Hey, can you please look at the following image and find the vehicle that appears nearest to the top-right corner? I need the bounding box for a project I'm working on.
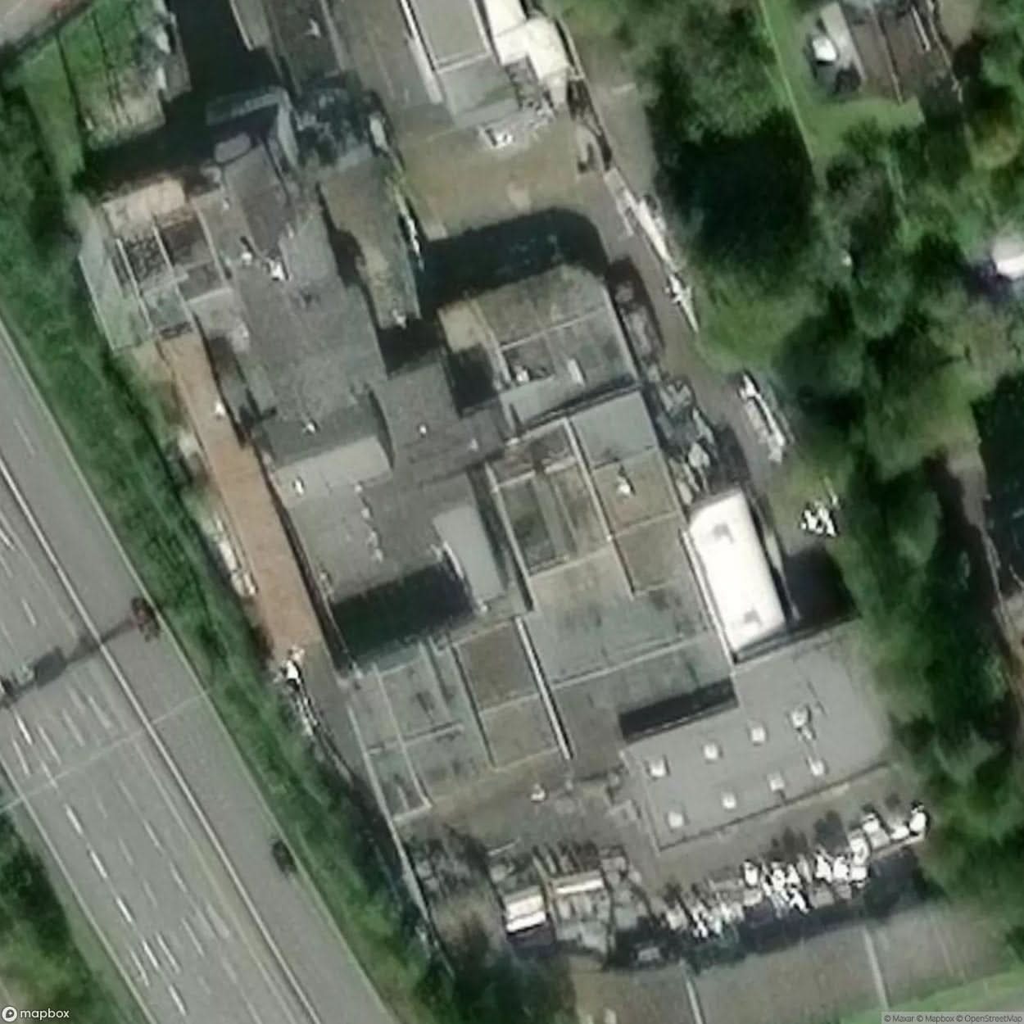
[810,35,838,67]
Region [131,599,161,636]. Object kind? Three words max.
car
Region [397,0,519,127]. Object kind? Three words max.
building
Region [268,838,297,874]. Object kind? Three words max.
car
